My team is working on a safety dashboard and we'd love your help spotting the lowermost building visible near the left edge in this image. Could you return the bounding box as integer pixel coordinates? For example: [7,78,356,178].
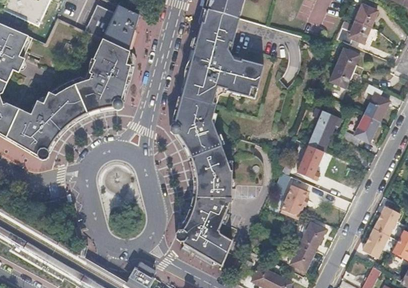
[0,24,135,158]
